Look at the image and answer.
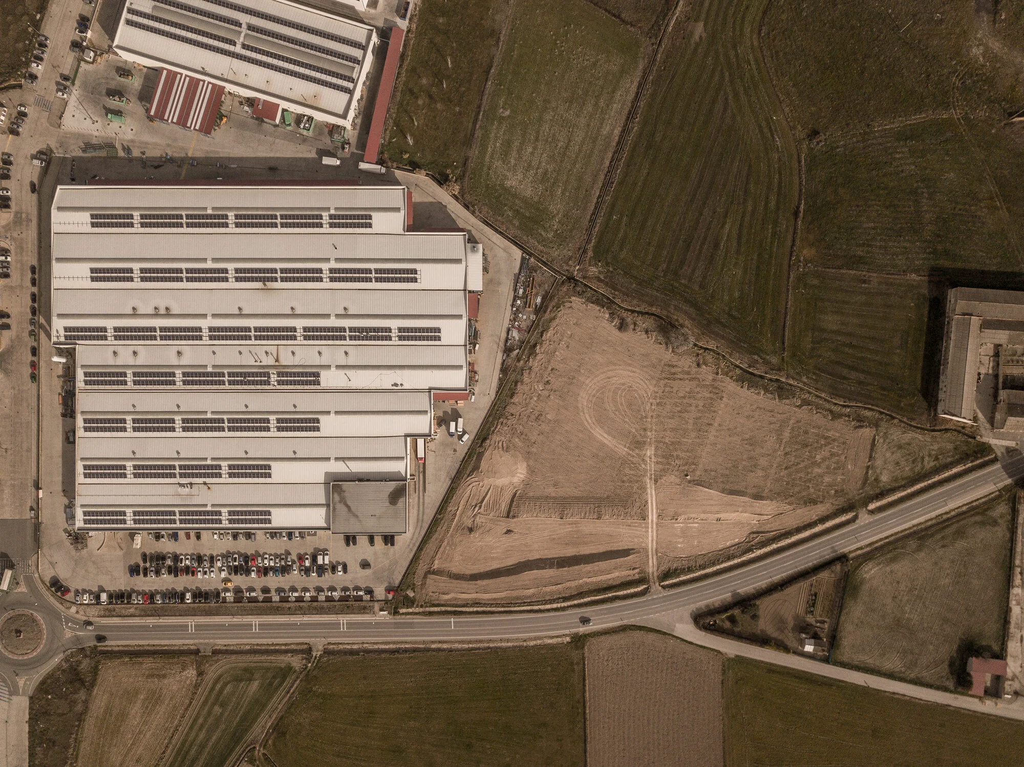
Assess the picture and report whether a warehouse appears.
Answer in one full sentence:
Yes, there's a warehouse here.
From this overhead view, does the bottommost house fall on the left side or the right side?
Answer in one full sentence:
The bottommost house is on the right side of the image.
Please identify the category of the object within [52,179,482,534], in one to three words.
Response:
warehouse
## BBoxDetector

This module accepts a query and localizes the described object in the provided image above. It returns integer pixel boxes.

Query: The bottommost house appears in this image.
[963,654,1009,701]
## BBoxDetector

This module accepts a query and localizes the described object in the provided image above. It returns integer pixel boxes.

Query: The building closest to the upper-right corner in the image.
[934,287,1024,432]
